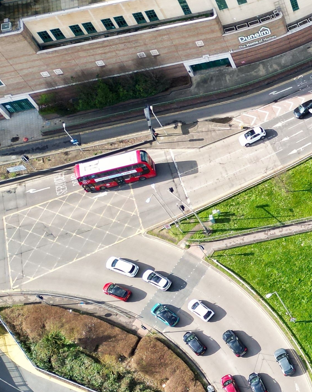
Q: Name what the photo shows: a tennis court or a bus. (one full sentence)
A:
Looking from above, you can make out a bus.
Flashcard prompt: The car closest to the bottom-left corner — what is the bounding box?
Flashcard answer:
[103,284,131,303]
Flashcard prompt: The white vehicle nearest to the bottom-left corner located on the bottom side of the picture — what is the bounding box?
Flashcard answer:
[106,258,139,278]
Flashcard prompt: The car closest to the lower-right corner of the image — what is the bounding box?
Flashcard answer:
[275,350,296,378]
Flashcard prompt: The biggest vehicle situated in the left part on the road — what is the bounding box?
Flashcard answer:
[73,147,157,190]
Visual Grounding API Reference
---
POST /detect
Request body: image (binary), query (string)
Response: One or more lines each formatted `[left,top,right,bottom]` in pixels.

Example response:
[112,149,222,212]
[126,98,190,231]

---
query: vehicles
[246,372,269,392]
[275,350,296,378]
[151,305,180,327]
[187,300,216,324]
[221,377,241,392]
[103,284,131,303]
[222,331,249,359]
[142,270,173,292]
[106,258,139,278]
[73,147,157,190]
[184,333,208,357]
[239,125,267,147]
[293,98,312,120]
